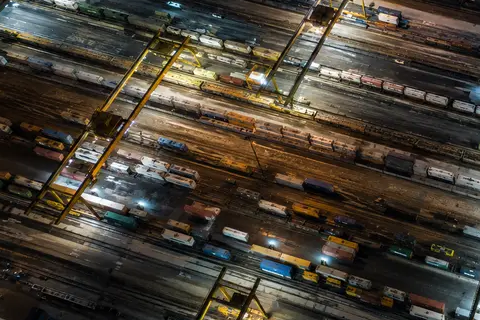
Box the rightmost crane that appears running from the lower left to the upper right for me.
[259,0,364,112]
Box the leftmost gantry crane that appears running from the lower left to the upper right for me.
[23,29,206,227]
